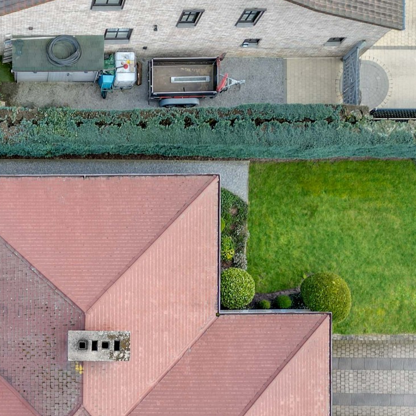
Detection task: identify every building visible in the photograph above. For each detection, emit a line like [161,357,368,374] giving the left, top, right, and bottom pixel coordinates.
[0,175,332,416]
[0,0,406,57]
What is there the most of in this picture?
buildings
